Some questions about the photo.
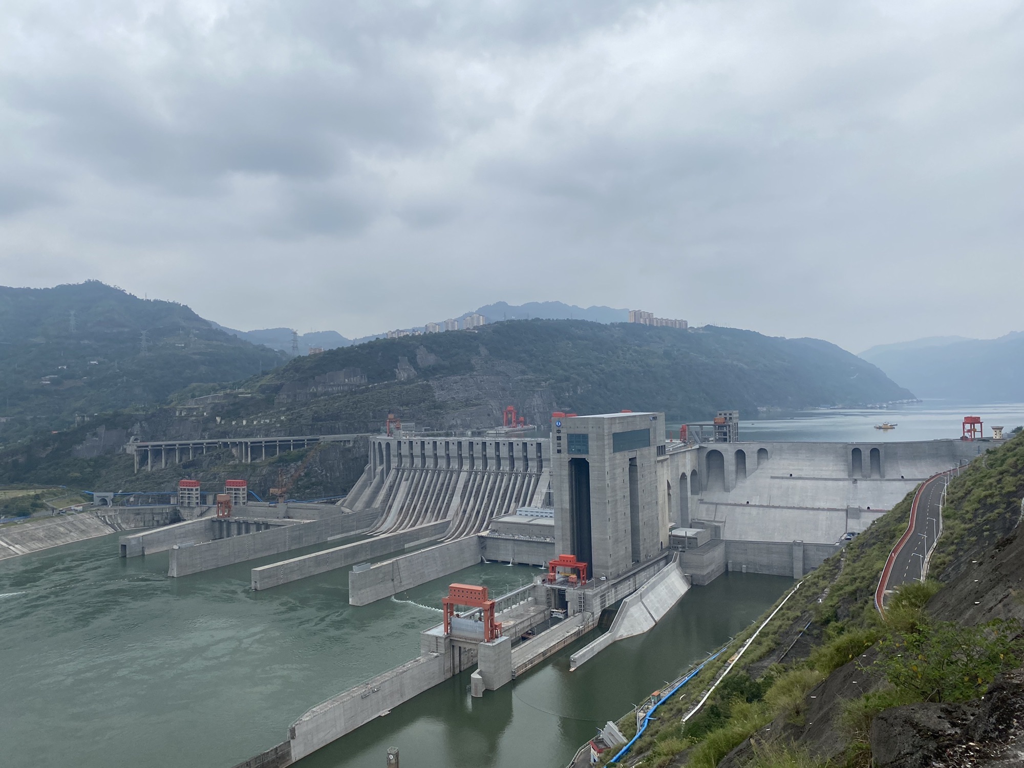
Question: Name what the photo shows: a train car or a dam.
dam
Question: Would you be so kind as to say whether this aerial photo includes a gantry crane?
Yes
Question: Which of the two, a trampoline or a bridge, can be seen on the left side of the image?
bridge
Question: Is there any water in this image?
Yes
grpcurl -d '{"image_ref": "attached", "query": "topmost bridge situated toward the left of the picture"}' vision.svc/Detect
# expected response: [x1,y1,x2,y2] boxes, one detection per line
[123,433,370,470]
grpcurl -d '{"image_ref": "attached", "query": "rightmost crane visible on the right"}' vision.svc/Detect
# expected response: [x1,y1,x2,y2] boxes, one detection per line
[955,416,983,440]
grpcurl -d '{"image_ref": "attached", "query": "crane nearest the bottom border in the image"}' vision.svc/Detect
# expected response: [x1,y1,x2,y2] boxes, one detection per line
[441,582,499,642]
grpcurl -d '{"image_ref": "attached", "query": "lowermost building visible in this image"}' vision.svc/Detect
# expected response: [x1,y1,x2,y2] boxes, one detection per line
[580,739,609,768]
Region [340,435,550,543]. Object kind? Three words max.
dam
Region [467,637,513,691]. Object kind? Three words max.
pier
